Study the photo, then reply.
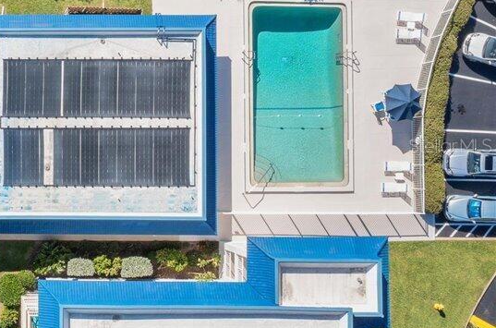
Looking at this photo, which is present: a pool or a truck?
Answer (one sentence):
Visible in the photo is a pool.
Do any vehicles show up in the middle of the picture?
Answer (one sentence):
No, in the middle of the picture there is no vehicle.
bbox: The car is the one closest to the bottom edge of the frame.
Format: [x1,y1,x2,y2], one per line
[442,194,496,225]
